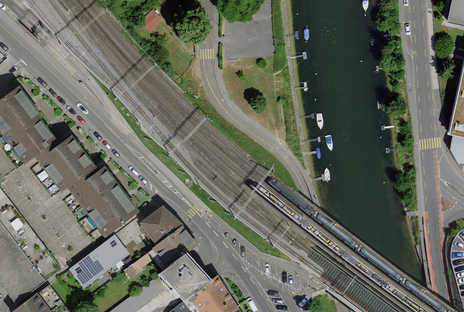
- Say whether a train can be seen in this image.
Yes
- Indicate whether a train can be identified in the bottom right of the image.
Yes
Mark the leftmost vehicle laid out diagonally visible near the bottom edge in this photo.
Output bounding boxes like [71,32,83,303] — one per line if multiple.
[246,296,258,312]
